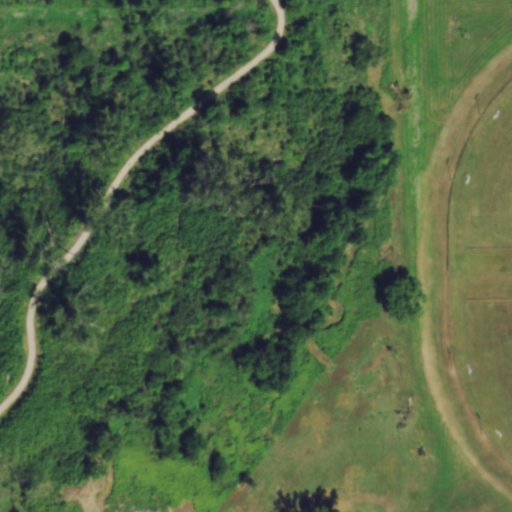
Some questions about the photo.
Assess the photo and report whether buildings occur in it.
No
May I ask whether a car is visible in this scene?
No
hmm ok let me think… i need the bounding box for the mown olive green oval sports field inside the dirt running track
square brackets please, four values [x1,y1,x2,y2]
[446,81,512,468]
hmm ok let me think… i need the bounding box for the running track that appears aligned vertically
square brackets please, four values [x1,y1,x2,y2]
[420,46,512,501]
